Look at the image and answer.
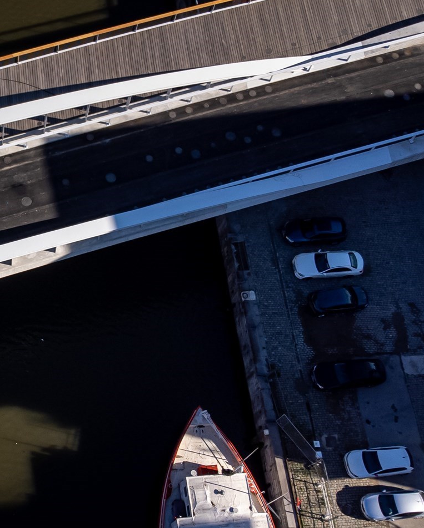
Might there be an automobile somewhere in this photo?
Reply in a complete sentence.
Yes, the frame does contain an automobile.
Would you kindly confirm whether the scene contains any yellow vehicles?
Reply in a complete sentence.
No, the frame has no yellow vehicle in it.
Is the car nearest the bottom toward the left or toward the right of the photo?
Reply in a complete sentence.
You can find the car nearest the bottom on the right side of the picture.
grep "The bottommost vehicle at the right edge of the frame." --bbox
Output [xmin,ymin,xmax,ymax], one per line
[358,486,424,525]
